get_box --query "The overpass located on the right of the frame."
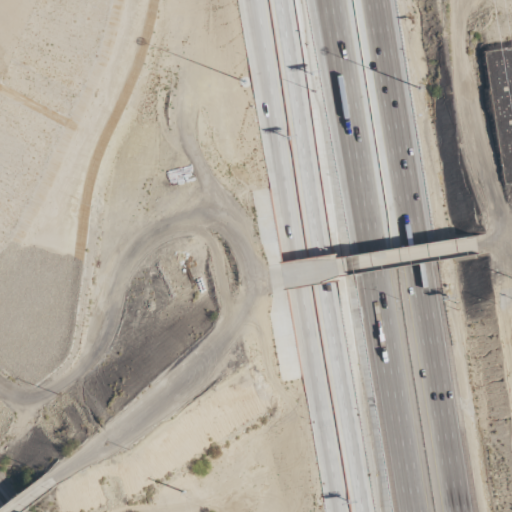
[270,235,490,290]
